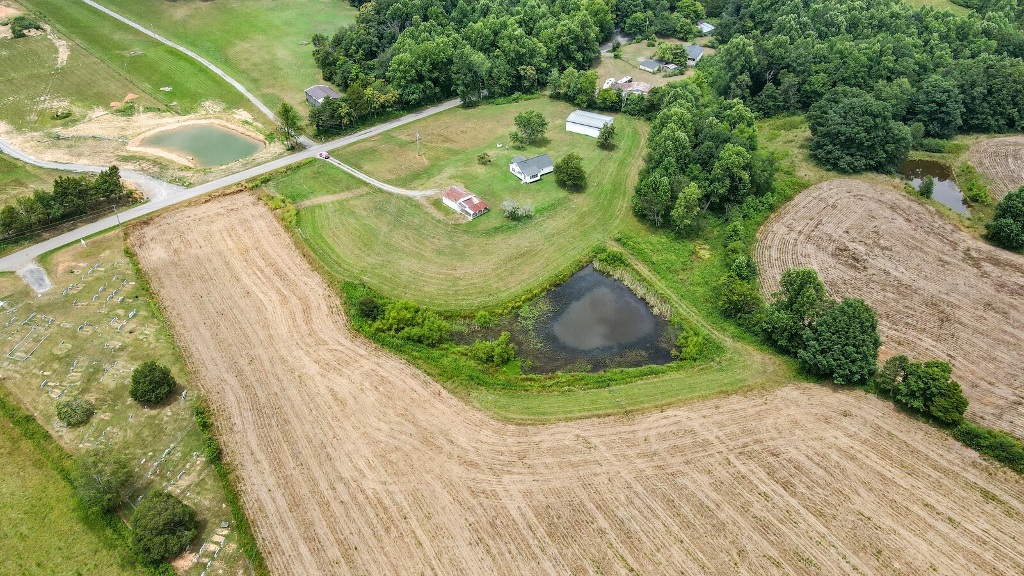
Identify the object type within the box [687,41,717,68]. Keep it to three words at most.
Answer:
house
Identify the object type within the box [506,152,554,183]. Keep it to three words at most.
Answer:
house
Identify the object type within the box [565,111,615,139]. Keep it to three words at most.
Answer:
barn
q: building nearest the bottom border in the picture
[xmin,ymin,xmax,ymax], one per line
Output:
[438,184,492,220]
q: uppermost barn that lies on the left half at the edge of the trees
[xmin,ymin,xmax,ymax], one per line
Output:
[303,84,340,110]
